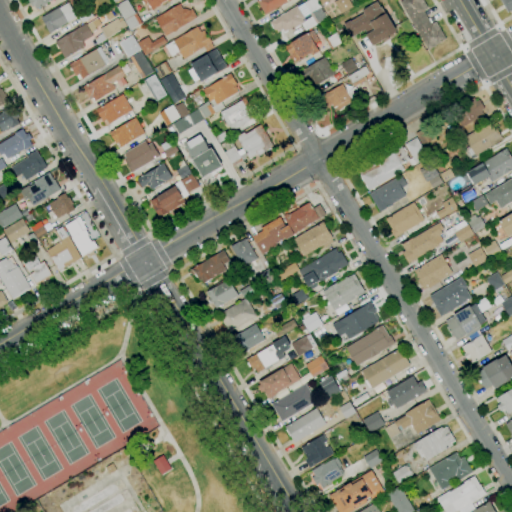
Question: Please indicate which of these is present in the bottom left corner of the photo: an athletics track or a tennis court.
tennis court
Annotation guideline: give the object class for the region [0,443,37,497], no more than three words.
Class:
tennis court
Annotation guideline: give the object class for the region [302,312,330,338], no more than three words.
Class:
building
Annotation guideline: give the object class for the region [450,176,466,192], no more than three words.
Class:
swimming pool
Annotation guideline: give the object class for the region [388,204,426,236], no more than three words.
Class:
house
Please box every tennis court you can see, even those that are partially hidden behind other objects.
[72,395,116,448]
[18,427,64,480]
[0,443,37,497]
[45,411,90,464]
[98,379,142,432]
